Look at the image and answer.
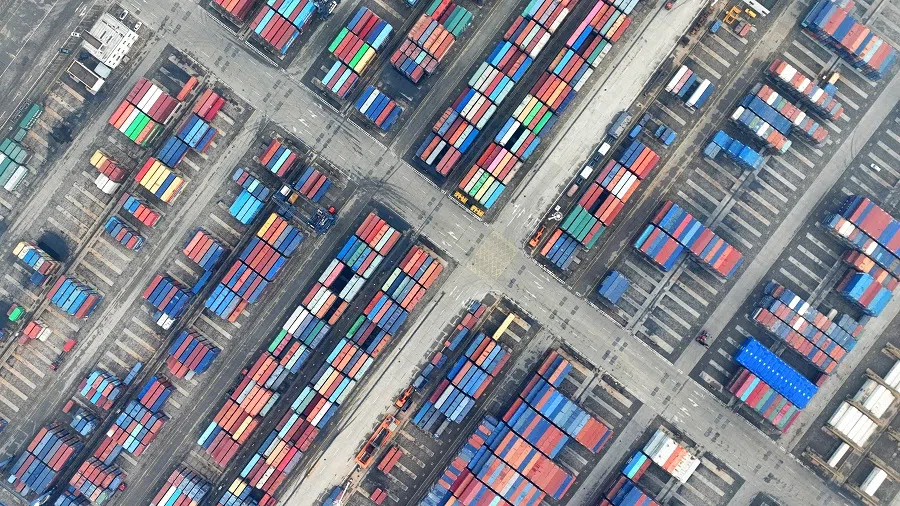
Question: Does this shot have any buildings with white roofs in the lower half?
No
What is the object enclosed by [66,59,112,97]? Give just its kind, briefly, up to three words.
building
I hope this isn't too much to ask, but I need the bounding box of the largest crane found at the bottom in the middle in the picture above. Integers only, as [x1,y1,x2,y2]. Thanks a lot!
[352,411,398,467]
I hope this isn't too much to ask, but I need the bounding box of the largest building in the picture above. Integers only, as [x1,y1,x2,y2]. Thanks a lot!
[81,12,142,71]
